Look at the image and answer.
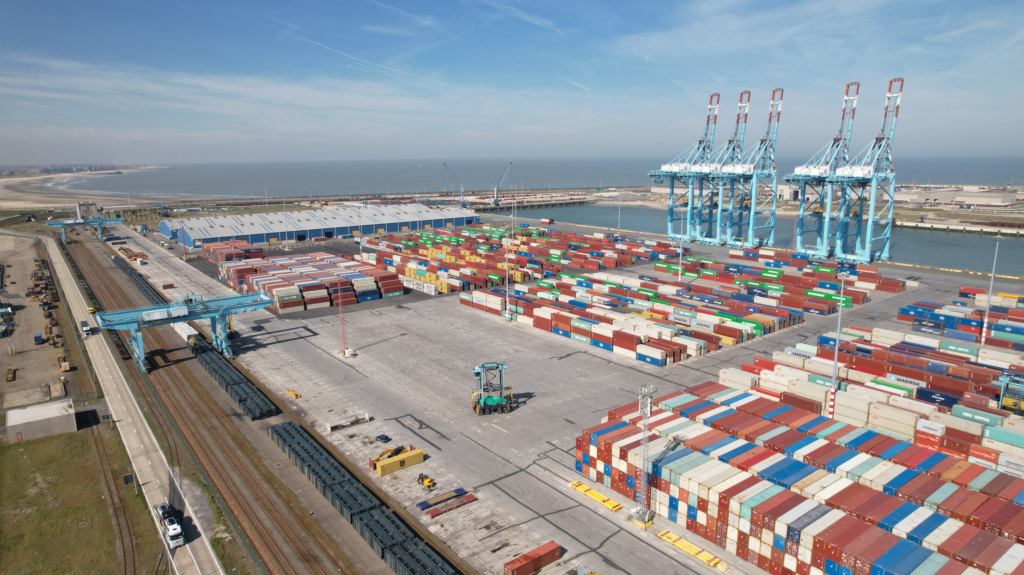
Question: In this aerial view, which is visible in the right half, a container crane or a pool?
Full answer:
Looking in the right half, you will find a container crane.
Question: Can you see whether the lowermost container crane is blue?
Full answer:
Yes, the lowermost container crane is blue.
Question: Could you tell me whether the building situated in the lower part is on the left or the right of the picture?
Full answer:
It is on the left.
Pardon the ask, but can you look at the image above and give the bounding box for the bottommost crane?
[95,286,277,373]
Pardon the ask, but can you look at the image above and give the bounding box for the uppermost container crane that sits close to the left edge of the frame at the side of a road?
[46,214,122,243]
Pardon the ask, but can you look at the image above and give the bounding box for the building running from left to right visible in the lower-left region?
[6,399,77,444]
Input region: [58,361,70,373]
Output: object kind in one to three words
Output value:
vehicle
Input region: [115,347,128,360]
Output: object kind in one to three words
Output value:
rail car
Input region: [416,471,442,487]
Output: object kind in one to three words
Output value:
work vehicle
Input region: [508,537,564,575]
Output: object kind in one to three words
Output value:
shipping container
